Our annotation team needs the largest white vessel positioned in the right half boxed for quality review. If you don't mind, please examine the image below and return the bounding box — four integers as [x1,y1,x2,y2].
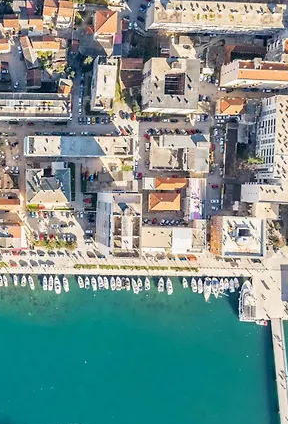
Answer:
[239,281,257,324]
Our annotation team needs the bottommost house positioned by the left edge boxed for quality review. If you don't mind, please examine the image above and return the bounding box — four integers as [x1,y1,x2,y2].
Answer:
[0,225,28,251]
